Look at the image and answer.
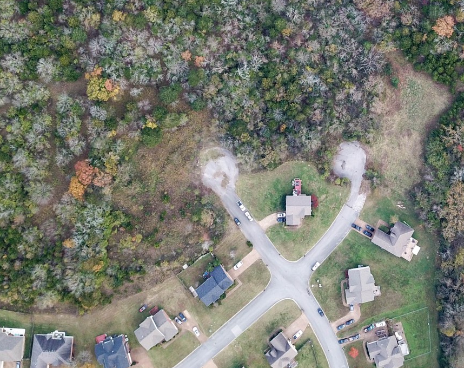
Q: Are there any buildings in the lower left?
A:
Yes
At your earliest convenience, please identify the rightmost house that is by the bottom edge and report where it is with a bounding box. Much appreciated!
[368,332,409,368]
